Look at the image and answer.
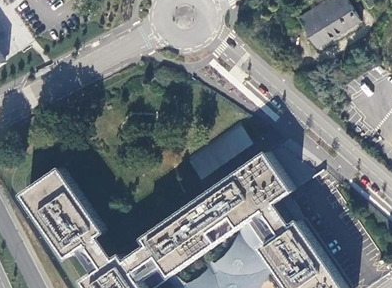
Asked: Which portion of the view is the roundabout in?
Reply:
top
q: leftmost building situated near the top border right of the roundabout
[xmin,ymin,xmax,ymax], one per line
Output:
[300,0,363,50]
